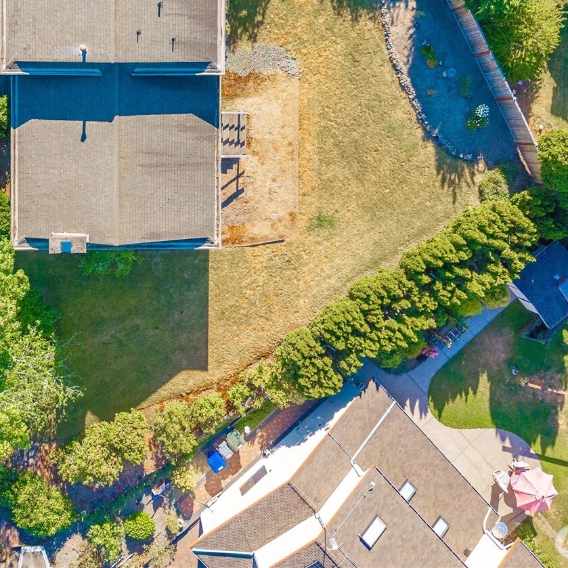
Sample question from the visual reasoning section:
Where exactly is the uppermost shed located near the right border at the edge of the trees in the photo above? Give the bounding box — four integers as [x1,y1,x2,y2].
[507,241,568,329]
